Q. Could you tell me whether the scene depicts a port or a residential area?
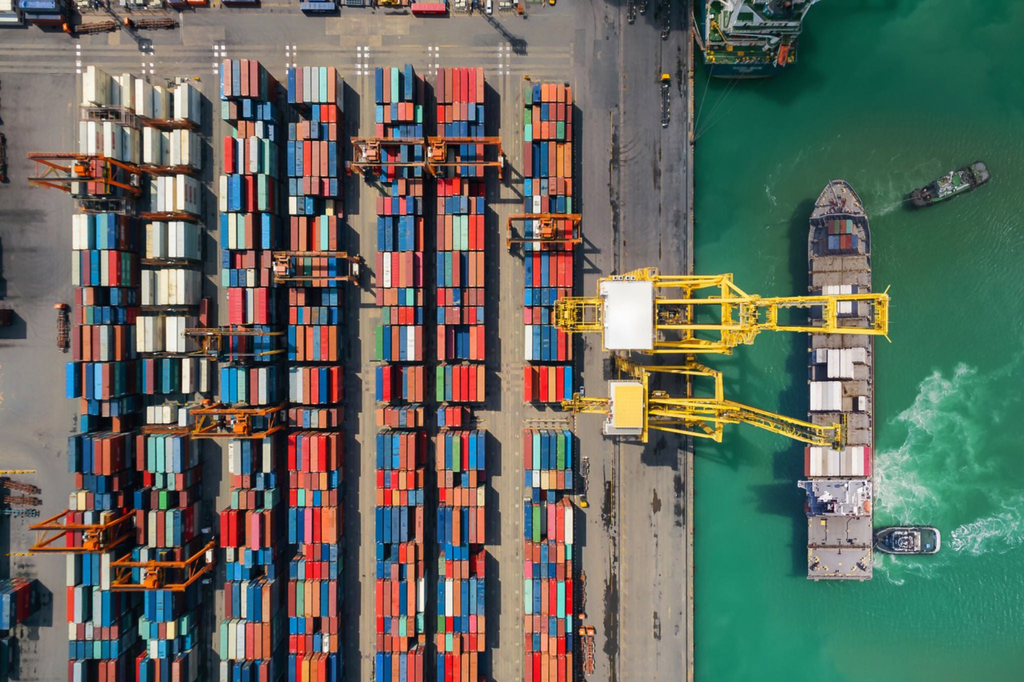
port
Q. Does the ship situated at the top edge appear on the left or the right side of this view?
right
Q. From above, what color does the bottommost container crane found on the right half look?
yellow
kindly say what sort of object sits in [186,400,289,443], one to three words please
crane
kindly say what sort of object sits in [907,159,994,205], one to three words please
boat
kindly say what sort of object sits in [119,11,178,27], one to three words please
work vehicle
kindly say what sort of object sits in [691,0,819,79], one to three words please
ship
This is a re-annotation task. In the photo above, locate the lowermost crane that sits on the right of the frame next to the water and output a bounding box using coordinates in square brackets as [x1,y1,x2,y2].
[564,354,848,450]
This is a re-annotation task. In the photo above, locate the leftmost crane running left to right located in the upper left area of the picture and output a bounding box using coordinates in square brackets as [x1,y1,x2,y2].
[25,150,143,201]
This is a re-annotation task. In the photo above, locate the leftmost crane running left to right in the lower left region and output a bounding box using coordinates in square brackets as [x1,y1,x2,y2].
[26,506,139,558]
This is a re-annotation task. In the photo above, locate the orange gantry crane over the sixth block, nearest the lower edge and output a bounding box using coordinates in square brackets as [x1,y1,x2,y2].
[107,537,220,594]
